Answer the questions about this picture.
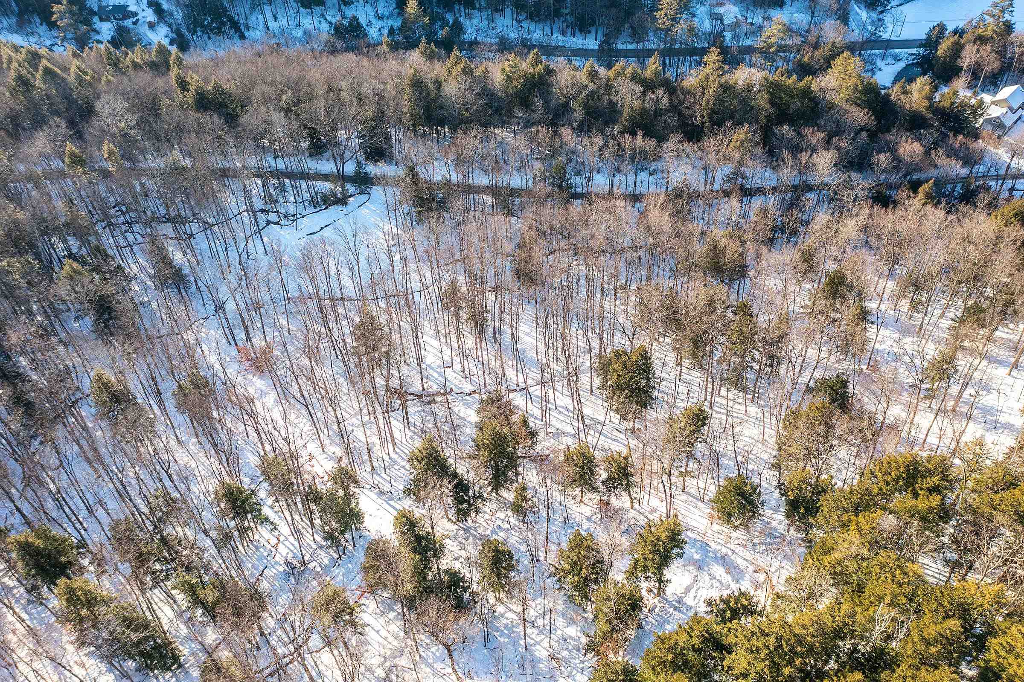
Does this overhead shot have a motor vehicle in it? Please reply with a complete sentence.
No, this view has no motor vehicle in it.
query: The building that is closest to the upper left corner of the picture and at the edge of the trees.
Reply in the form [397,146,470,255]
[96,5,139,21]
